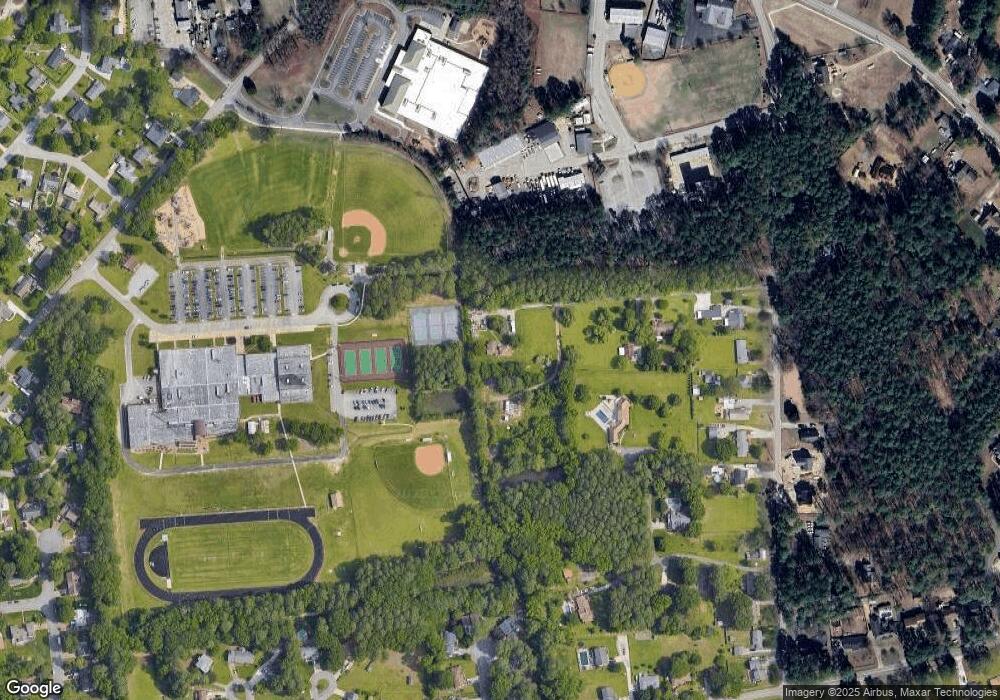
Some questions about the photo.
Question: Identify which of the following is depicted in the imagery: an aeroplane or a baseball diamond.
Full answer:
Of the two, only a baseball diamond appears.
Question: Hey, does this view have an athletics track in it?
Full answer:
Yes, looking at the shot, I can spot an athletics track.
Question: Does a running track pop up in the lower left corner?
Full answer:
Yes, a running track is visible in the lower left corner.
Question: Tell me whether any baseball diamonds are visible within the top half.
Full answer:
Yes, a baseball diamond can be seen within the top half.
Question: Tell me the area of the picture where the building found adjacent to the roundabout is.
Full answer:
The building found adjacent to the roundabout is located in the left region of the scene.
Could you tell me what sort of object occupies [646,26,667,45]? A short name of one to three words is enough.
shed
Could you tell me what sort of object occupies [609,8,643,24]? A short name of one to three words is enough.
shed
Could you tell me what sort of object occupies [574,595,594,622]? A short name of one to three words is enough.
house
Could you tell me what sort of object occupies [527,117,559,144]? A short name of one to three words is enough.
building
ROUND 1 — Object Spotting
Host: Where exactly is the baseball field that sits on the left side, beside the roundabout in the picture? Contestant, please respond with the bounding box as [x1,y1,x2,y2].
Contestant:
[339,143,451,262]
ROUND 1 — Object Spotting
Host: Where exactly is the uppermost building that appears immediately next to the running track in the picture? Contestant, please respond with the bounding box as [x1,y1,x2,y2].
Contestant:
[127,345,312,451]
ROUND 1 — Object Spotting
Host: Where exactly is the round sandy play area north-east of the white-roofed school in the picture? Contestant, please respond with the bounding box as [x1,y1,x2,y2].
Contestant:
[472,21,494,46]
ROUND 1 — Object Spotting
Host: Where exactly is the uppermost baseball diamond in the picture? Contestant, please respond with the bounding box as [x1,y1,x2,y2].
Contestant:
[608,39,763,138]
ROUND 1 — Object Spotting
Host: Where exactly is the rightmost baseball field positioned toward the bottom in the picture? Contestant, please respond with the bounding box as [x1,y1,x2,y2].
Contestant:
[372,442,455,508]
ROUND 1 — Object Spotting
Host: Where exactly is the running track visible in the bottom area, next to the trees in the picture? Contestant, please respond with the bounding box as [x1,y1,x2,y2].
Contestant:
[134,508,324,602]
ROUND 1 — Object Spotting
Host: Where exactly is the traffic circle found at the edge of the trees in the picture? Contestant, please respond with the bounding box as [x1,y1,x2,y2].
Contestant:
[310,284,359,328]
